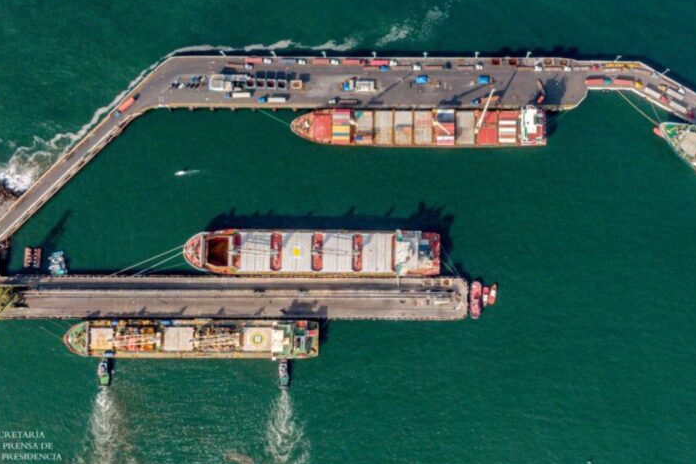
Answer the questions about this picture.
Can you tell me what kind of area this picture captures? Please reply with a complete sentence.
The picture captures a port.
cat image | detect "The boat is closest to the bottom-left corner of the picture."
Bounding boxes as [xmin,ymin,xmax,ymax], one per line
[98,358,111,388]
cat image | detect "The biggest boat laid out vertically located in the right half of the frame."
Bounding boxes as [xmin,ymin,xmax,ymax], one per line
[470,281,482,319]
